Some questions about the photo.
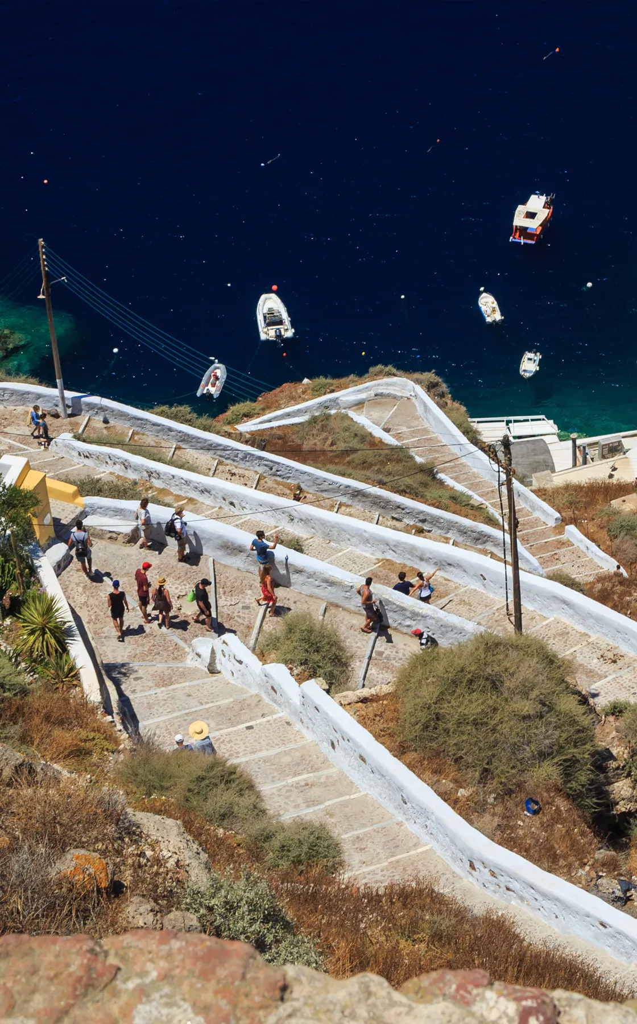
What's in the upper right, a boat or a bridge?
boat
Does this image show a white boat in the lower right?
No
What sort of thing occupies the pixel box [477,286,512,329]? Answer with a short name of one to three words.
boat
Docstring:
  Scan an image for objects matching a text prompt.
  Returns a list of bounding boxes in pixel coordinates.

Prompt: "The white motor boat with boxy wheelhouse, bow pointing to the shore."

[517,342,548,382]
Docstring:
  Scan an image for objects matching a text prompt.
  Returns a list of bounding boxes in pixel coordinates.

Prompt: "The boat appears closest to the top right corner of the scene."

[508,181,563,248]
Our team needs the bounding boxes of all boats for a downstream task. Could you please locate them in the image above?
[254,291,297,348]
[477,286,512,329]
[508,181,563,248]
[196,362,227,403]
[517,342,548,382]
